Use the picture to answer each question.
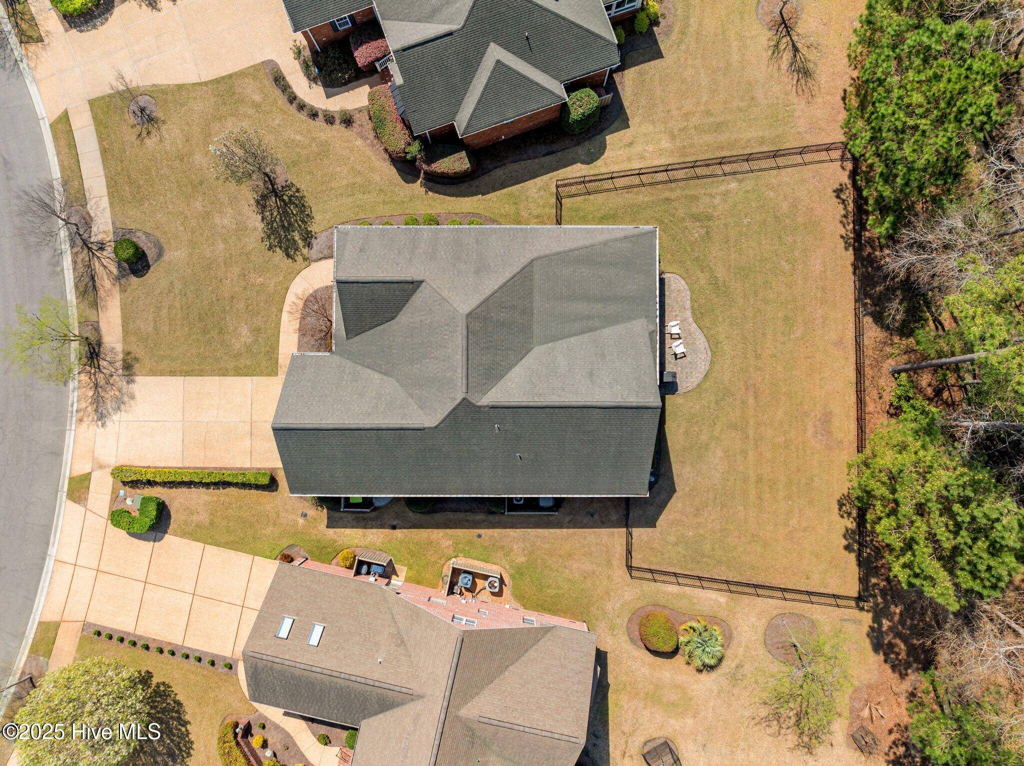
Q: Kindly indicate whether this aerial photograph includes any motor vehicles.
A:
No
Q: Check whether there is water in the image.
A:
No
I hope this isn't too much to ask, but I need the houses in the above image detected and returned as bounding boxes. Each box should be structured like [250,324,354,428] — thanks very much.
[272,226,661,498]
[244,557,598,766]
[282,0,623,148]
